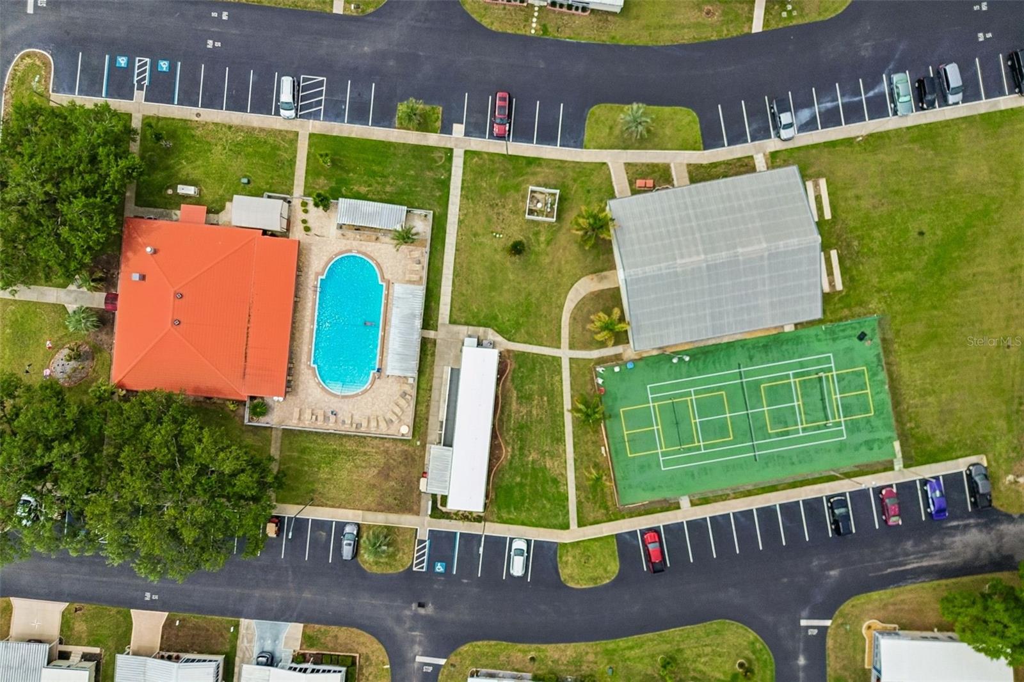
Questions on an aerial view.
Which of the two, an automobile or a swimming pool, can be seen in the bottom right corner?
automobile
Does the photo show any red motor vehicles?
Yes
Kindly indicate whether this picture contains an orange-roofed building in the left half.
Yes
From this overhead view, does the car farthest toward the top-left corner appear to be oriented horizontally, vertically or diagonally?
vertically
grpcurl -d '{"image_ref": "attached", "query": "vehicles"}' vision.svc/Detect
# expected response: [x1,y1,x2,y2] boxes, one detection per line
[827,494,852,537]
[938,62,963,105]
[923,478,947,521]
[418,471,428,494]
[254,647,273,669]
[510,537,528,578]
[266,516,282,539]
[491,93,510,138]
[27,639,43,645]
[277,76,297,119]
[642,528,665,574]
[1005,47,1024,97]
[341,522,360,561]
[966,463,993,510]
[772,98,795,142]
[879,487,901,527]
[889,72,914,116]
[915,75,938,111]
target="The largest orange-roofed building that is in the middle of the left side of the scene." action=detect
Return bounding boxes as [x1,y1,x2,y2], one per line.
[91,205,303,401]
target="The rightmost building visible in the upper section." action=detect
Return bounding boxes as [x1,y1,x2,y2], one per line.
[605,165,823,352]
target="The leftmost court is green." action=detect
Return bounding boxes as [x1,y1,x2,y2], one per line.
[595,317,896,506]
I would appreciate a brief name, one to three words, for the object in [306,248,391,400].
swimming pool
